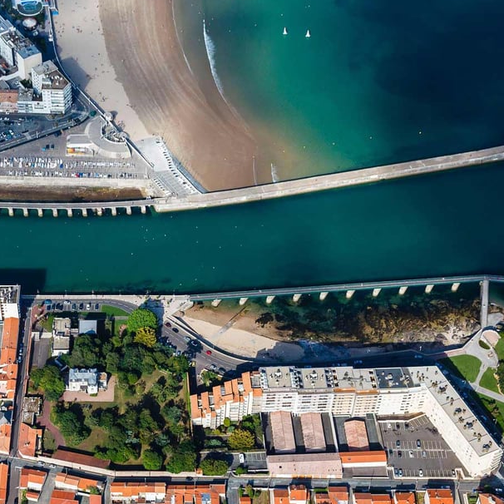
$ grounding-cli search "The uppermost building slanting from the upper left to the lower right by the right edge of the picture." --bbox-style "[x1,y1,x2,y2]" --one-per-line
[416,366,503,479]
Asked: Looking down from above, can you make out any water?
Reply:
Yes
